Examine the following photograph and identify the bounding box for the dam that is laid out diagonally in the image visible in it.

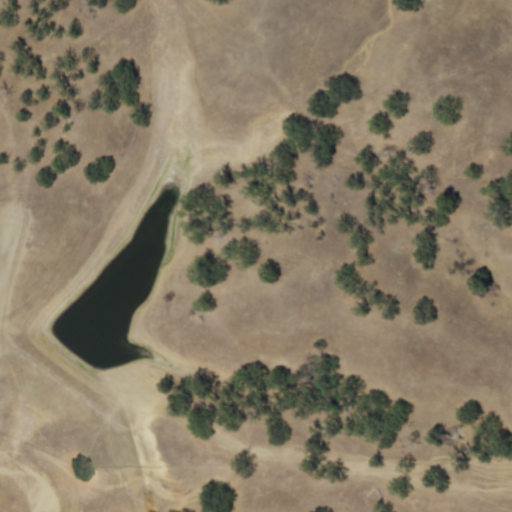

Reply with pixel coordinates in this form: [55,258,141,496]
[30,326,116,400]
